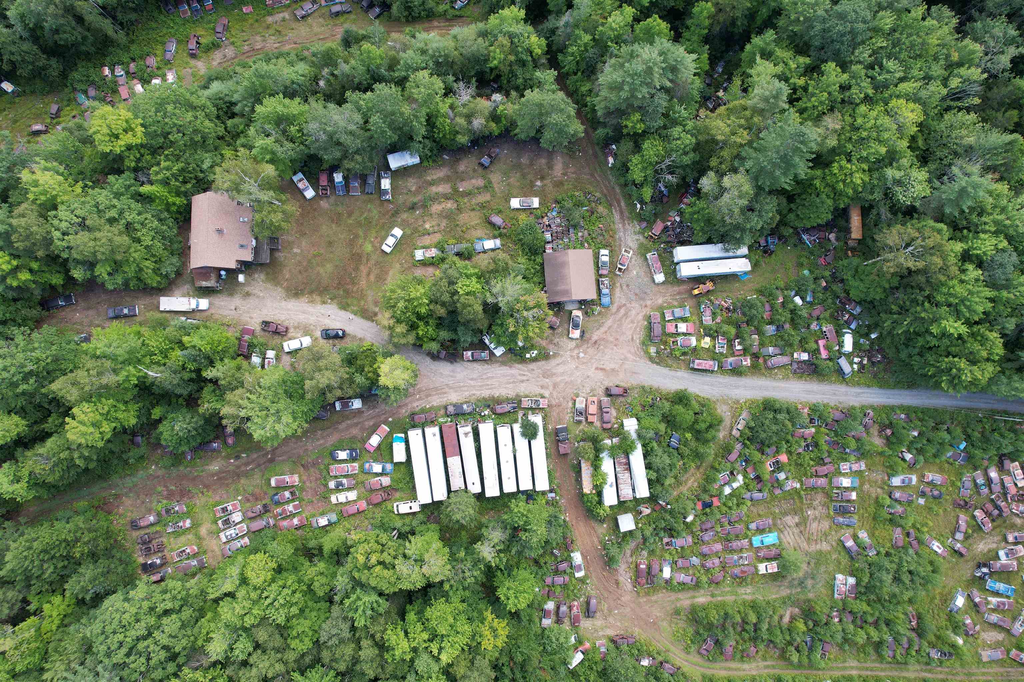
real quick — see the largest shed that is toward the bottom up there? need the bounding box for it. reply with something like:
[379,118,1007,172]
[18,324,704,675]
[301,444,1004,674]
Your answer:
[615,510,637,532]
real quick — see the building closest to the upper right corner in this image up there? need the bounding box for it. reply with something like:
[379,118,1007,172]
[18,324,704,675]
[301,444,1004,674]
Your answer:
[543,249,596,303]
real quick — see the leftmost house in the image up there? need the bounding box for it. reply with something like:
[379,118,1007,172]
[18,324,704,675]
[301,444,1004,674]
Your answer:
[190,192,280,293]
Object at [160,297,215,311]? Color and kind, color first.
white vehicle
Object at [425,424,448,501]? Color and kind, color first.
white trailer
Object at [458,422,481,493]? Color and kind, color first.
white trailer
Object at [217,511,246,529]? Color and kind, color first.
white car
